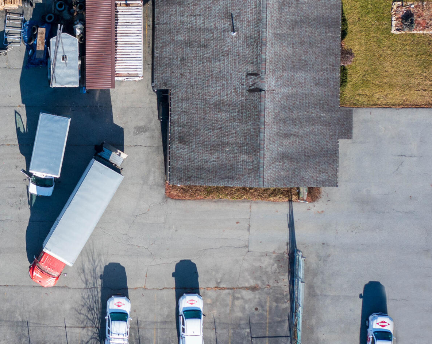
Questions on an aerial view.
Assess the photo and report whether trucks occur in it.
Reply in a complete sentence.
Yes, there is a truck in the image.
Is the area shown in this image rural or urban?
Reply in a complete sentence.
The area shown here is urban.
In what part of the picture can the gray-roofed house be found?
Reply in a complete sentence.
The gray-roofed house is located in the top region of the scene.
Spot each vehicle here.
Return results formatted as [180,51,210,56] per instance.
[103,293,134,344]
[20,112,71,200]
[175,291,207,344]
[362,312,398,344]
[26,141,130,291]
